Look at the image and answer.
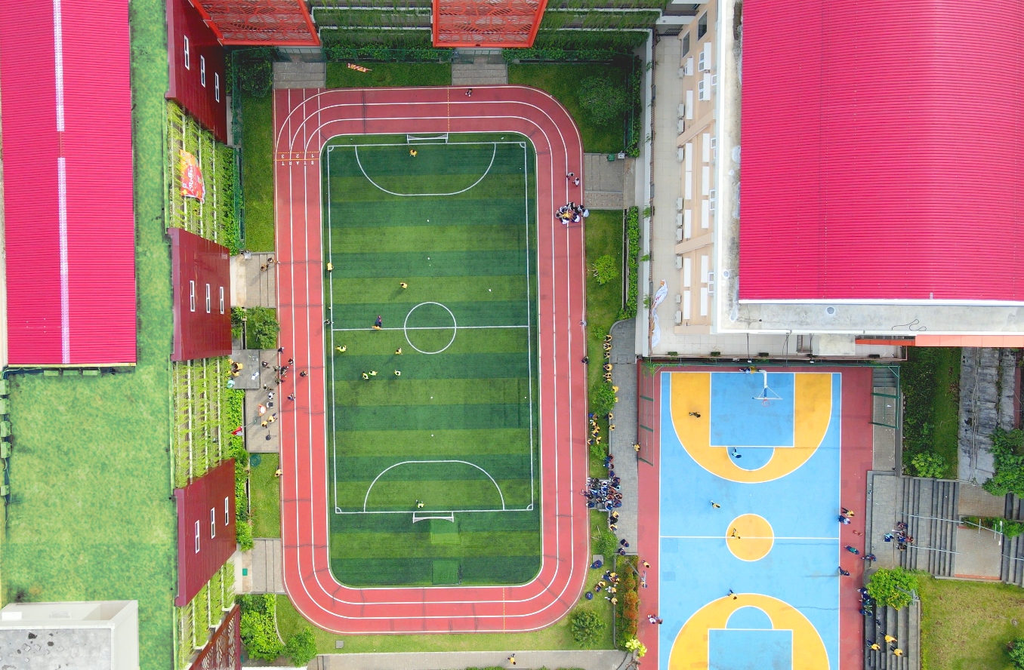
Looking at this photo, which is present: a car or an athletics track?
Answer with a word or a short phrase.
athletics track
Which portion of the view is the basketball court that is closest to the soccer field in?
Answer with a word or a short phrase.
bottom right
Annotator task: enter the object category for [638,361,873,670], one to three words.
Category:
basketball court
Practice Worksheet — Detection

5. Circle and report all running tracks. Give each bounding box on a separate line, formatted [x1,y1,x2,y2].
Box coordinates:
[274,84,592,636]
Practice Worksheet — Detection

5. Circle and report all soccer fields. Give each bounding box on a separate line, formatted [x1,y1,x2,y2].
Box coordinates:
[321,132,541,587]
